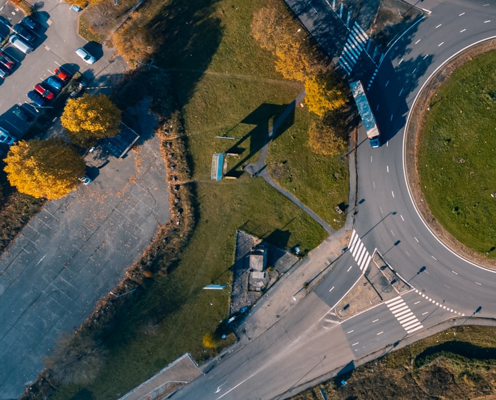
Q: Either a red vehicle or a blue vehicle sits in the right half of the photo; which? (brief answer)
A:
blue vehicle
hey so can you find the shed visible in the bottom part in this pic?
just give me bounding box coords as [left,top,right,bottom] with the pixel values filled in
[249,247,267,271]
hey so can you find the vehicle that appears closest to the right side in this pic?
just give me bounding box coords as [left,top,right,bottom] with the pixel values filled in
[350,79,387,149]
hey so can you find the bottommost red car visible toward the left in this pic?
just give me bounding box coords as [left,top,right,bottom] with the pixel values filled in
[35,83,55,100]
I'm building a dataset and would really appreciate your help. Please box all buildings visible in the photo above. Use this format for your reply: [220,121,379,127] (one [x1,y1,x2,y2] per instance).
[107,124,144,157]
[249,247,267,271]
